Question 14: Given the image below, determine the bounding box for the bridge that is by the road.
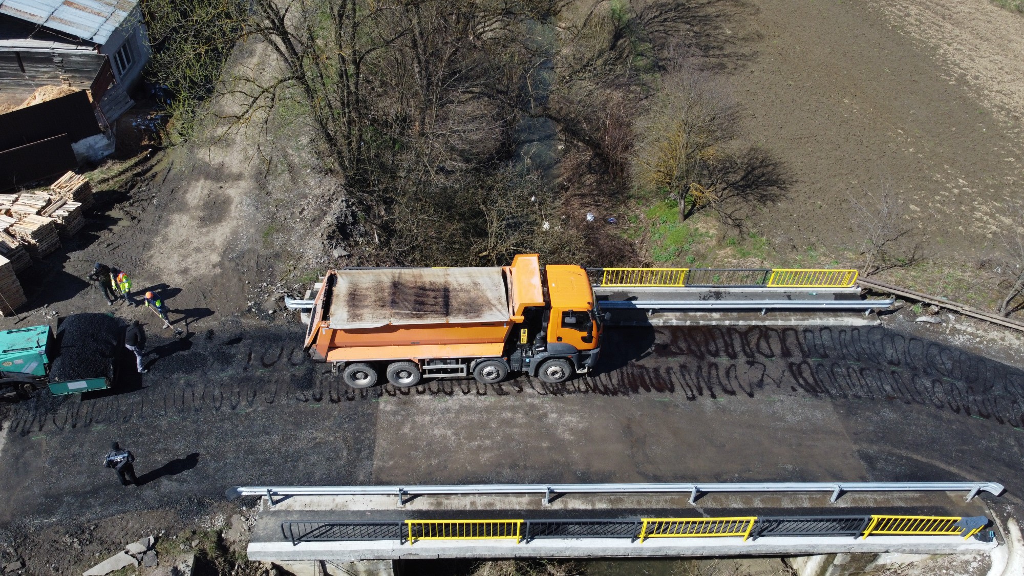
[245,486,1015,576]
